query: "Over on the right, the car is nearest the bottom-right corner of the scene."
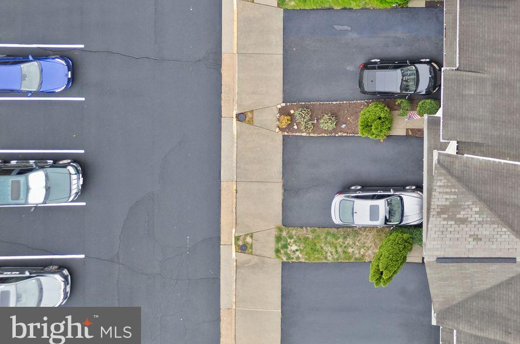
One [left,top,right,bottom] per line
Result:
[328,184,424,231]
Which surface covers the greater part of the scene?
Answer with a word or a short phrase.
paved ground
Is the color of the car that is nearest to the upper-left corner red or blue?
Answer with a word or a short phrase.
blue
